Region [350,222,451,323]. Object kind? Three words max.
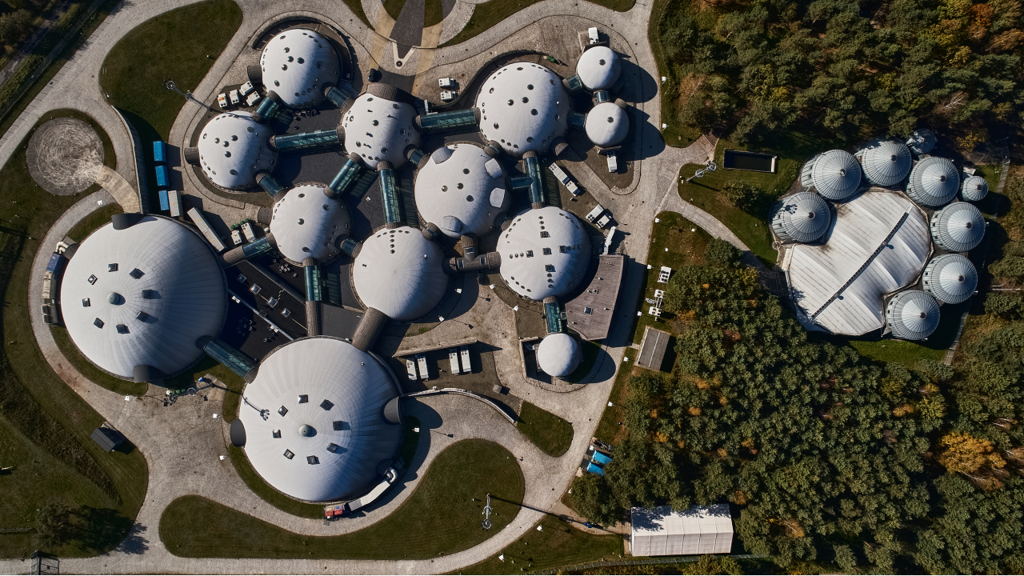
building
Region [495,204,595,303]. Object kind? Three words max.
building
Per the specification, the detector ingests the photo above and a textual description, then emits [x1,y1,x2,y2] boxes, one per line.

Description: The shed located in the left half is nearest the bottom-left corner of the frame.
[90,424,122,452]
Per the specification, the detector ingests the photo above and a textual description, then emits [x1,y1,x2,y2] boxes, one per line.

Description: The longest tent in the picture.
[627,502,733,556]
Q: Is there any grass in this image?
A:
Yes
